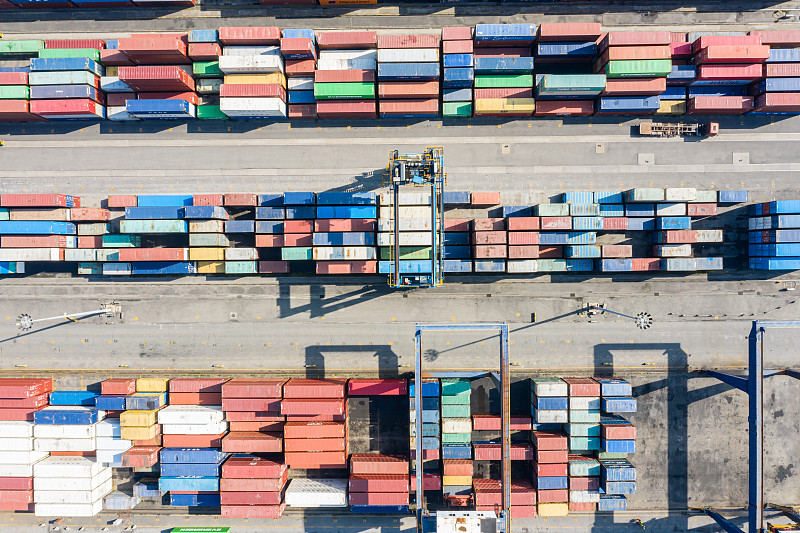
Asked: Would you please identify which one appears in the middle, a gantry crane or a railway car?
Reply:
gantry crane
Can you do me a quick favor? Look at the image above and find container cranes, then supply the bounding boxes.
[403,327,510,533]
[380,142,449,291]
[694,326,800,533]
